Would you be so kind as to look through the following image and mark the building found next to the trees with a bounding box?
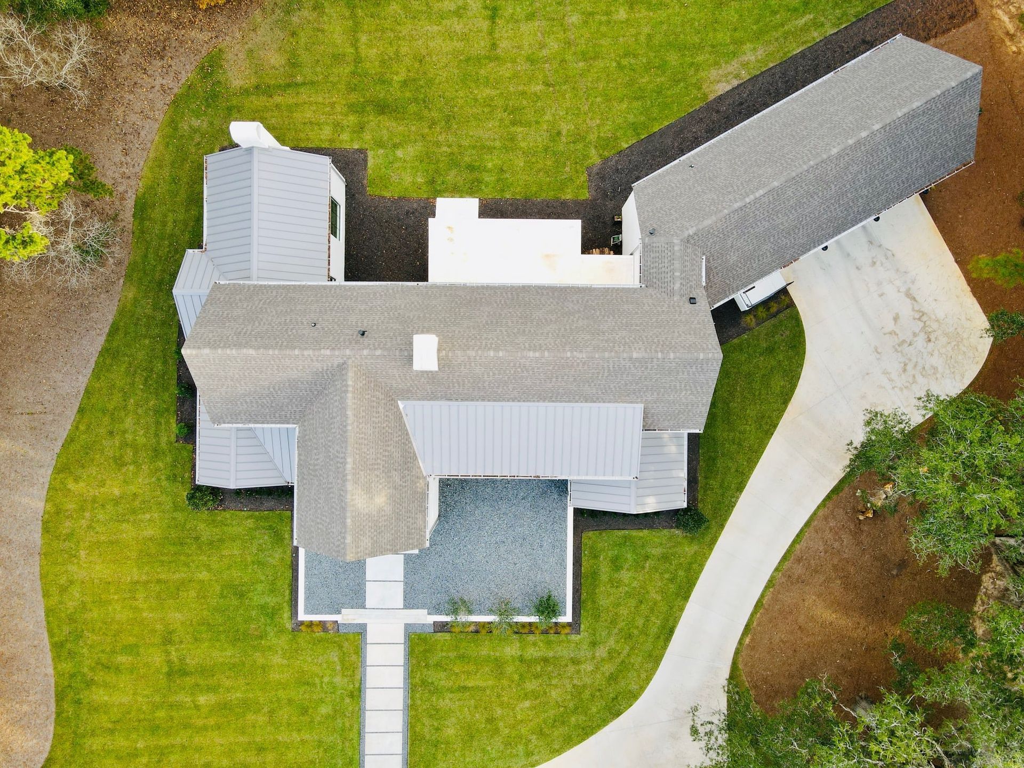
[173,34,982,561]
